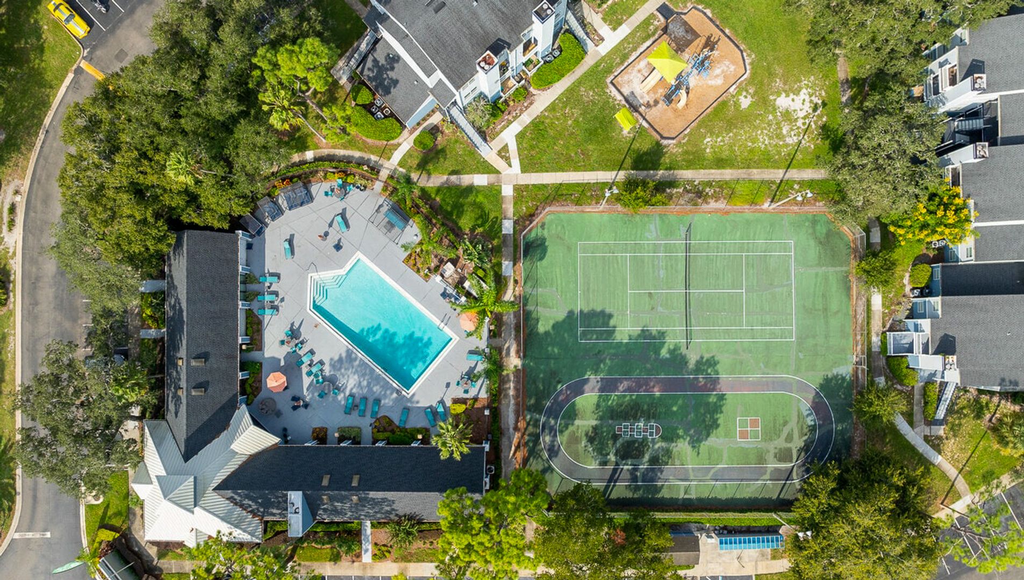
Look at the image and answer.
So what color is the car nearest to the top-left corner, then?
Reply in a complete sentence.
From above, the car nearest to the top-left corner appears yellow.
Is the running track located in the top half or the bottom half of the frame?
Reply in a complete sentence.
The bottom half of the photo is where the running track is.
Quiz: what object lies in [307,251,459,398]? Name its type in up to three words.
swimming pool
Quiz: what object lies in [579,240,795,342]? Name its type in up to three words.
tennis court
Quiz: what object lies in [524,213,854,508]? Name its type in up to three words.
sports court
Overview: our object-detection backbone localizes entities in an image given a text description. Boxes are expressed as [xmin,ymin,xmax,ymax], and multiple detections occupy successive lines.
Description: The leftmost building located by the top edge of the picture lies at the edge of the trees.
[357,0,609,129]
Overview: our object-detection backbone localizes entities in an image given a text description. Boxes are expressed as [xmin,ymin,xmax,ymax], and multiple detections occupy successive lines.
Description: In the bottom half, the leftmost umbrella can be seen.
[269,372,289,391]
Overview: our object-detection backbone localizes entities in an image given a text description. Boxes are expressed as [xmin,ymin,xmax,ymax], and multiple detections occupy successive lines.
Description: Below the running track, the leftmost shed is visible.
[659,531,699,565]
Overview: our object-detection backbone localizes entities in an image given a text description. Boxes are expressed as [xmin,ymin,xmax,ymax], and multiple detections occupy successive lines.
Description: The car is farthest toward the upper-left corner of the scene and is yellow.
[46,0,93,42]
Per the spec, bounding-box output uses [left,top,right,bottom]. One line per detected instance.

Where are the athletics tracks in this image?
[541,376,835,484]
